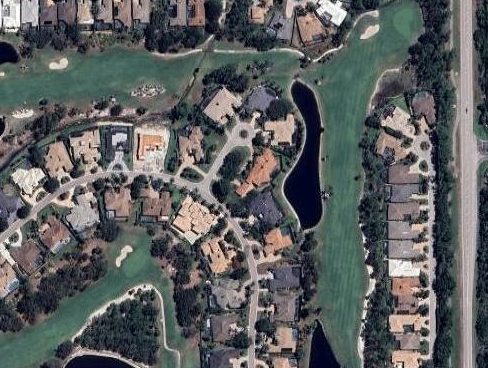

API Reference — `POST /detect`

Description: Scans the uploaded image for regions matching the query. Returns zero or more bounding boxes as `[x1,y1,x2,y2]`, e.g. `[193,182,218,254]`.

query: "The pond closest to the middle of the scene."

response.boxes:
[284,81,322,229]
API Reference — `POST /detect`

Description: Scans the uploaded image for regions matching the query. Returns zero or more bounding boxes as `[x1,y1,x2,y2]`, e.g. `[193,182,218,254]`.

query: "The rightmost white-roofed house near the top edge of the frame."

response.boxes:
[317,0,347,26]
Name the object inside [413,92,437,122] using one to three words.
house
